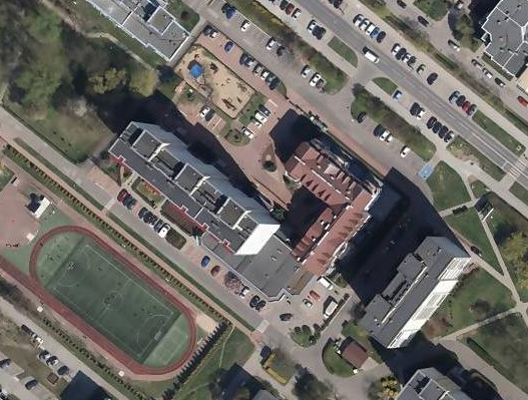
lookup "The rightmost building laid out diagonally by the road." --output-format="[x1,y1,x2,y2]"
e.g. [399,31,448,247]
[359,231,468,346]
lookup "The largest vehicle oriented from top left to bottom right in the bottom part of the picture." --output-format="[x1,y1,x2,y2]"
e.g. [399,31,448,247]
[316,275,334,292]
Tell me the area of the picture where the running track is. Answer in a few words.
bottom left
